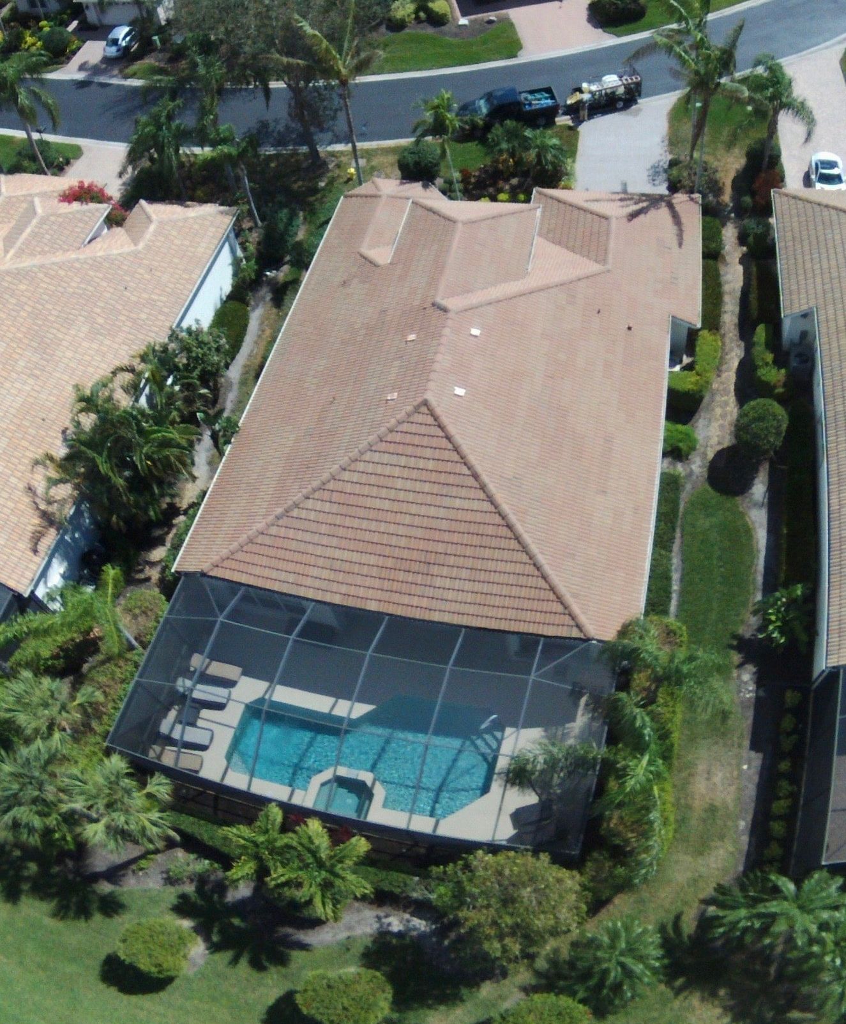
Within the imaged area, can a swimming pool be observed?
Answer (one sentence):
Yes, a swimming pool can be made out from above.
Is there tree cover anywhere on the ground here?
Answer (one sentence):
Yes, tree cover can be seen from above here.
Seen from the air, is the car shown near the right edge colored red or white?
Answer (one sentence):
In this view, the car shown near the right edge is white.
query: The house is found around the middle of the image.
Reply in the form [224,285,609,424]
[169,177,708,667]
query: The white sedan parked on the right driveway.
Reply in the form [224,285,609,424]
[803,147,846,197]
